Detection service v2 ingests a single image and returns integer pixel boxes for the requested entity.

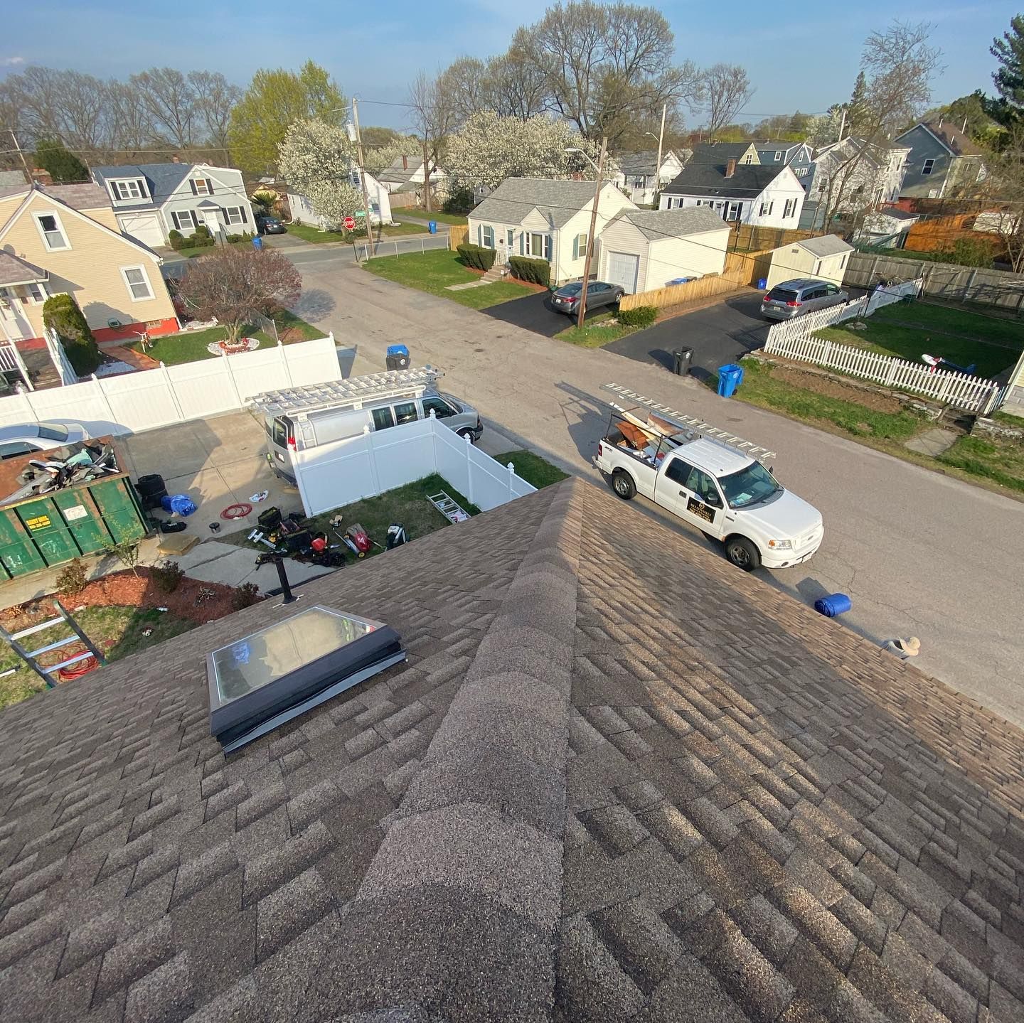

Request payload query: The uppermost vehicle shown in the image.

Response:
[256,214,283,231]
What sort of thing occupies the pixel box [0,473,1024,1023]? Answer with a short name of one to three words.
house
